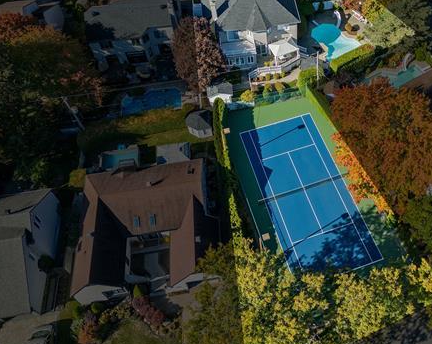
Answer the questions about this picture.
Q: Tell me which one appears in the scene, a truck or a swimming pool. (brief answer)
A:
swimming pool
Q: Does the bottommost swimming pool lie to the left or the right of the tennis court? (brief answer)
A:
to its left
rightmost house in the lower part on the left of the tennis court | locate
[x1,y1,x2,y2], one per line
[70,158,222,300]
